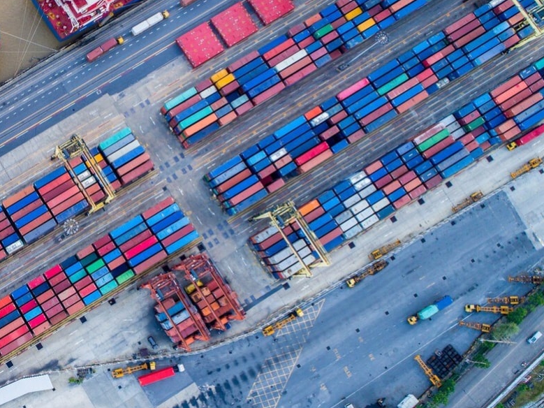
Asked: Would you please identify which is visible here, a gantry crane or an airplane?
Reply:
gantry crane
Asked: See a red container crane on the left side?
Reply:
Yes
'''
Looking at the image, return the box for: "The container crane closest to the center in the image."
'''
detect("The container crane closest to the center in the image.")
[243,200,330,284]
